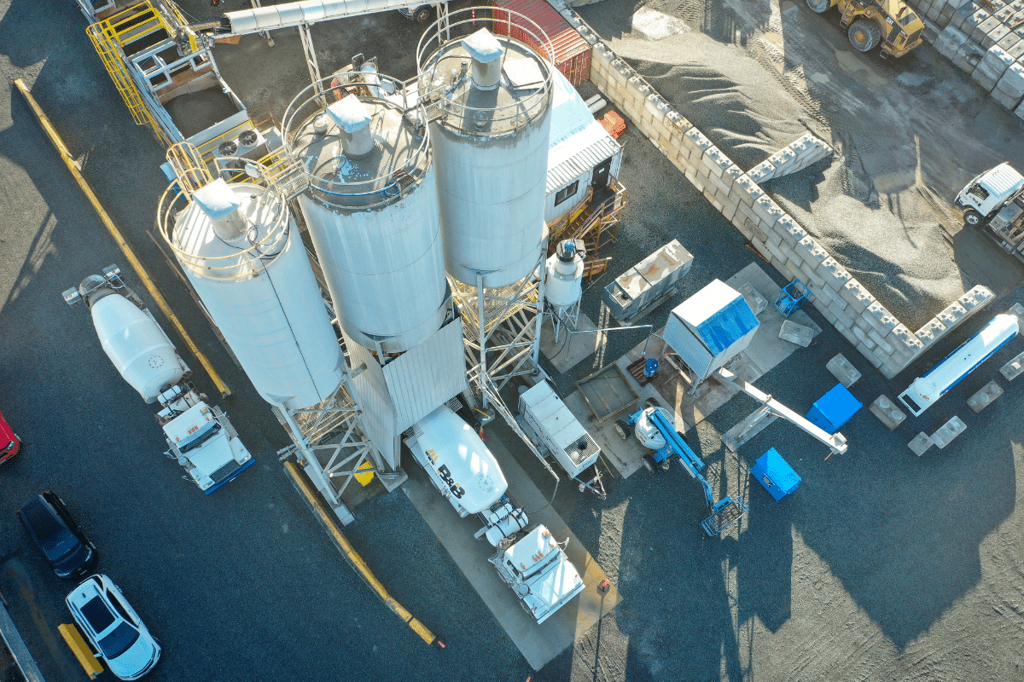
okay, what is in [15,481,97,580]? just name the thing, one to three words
car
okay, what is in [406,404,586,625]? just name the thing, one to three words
truck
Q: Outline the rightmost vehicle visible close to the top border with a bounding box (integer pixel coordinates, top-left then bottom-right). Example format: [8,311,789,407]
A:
[808,0,937,70]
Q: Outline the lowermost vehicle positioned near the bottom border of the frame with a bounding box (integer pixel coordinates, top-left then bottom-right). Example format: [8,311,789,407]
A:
[68,566,161,682]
